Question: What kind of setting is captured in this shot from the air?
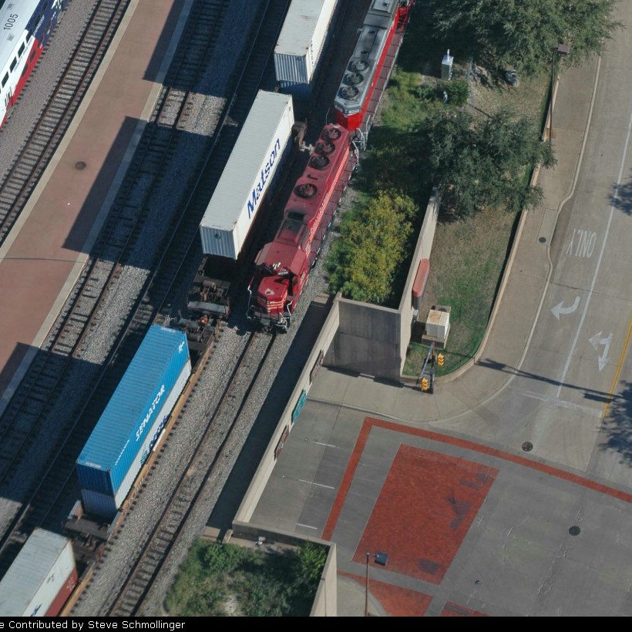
rail yard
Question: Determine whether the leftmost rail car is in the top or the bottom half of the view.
bottom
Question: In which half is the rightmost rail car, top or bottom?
top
